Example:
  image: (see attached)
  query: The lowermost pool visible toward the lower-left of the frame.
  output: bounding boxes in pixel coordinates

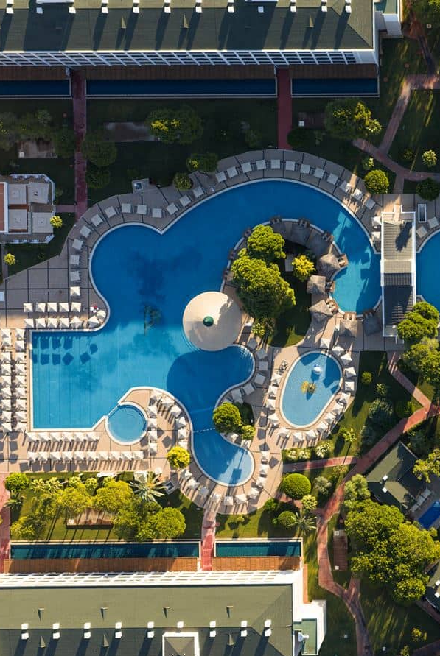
[9,542,199,559]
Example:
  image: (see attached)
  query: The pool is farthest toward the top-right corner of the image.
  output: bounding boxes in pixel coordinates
[290,78,379,97]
